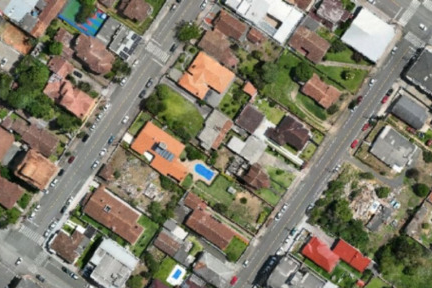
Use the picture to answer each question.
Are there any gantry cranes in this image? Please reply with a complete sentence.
No, I find no gantry crane anywhere in the image.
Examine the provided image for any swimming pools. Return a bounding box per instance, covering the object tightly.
[171,268,183,280]
[194,163,214,181]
